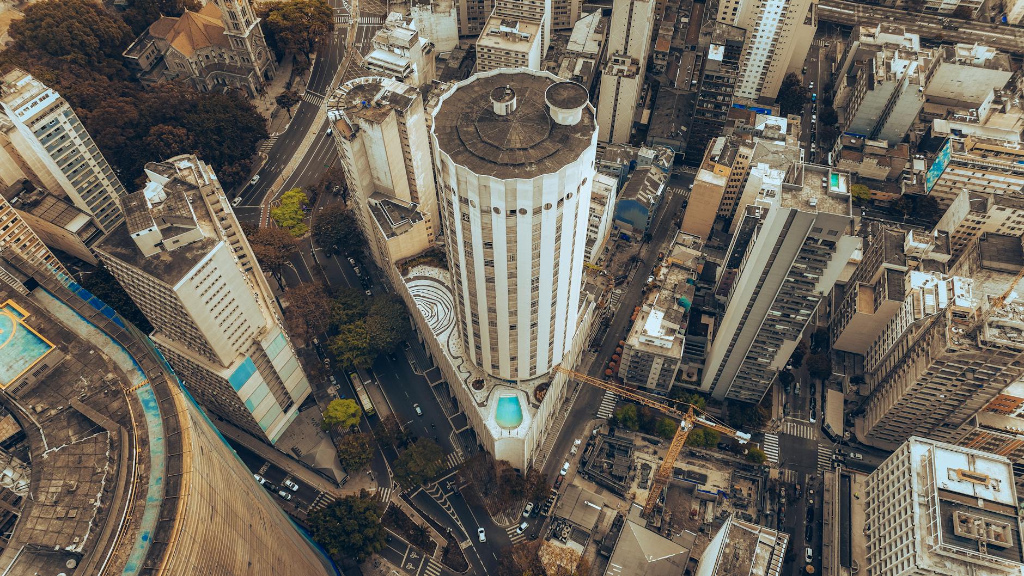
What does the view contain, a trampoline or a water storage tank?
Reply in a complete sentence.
There is a water storage tank in the scene.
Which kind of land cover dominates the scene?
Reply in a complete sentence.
The largest share of the image is taken up by buildings.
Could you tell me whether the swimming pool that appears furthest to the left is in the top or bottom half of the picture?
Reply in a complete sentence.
Seen from above, the swimming pool that appears furthest to the left lies in the bottom half of the view.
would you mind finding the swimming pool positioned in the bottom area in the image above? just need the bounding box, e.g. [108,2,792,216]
[496,394,522,429]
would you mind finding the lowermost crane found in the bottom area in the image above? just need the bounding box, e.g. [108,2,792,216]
[553,365,748,524]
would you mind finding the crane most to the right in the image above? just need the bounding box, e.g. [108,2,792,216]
[964,265,1024,338]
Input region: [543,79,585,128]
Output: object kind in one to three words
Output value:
water tank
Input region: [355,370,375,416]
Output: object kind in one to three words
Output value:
bus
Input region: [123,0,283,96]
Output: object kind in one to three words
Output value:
building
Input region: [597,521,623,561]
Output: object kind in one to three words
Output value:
shed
